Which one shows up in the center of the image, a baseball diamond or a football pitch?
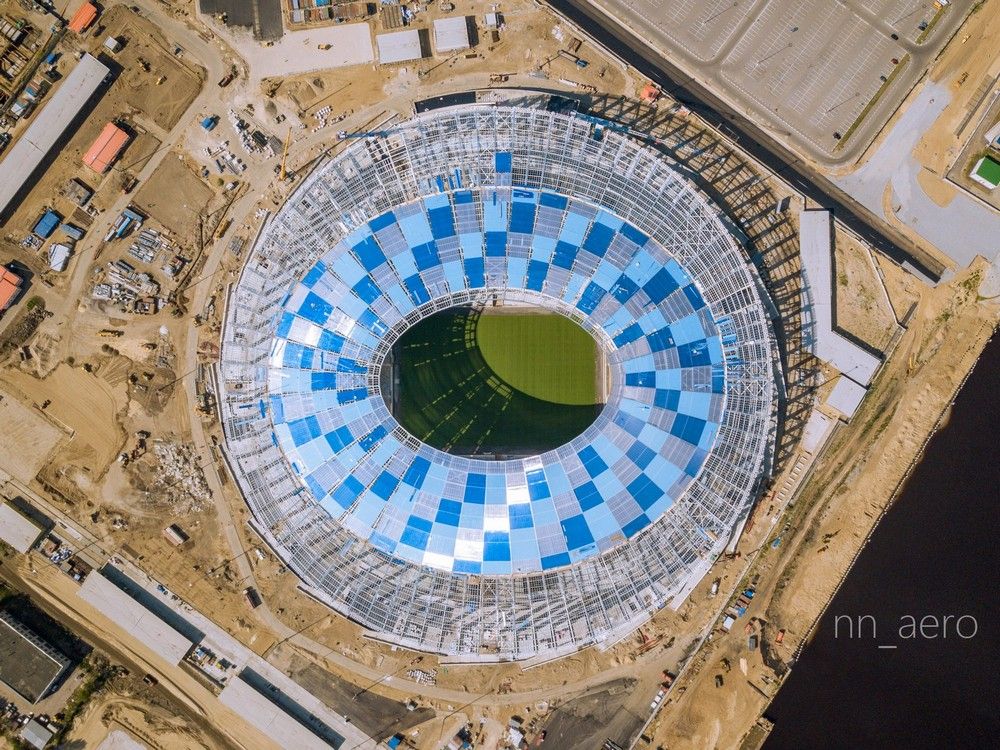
football pitch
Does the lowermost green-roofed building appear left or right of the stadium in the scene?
to the right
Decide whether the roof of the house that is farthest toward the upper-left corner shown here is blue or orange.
orange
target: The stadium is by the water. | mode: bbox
[215,93,789,671]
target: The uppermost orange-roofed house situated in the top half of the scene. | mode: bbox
[69,2,102,37]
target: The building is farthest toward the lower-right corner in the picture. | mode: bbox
[823,376,867,418]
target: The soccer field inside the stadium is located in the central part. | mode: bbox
[387,307,606,453]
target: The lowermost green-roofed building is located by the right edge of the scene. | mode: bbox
[964,145,1000,195]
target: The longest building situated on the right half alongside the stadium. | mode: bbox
[797,210,881,379]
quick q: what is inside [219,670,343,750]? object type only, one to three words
building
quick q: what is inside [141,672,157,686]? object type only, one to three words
vehicle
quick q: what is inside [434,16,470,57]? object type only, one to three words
shed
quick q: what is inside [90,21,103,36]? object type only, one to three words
vehicle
